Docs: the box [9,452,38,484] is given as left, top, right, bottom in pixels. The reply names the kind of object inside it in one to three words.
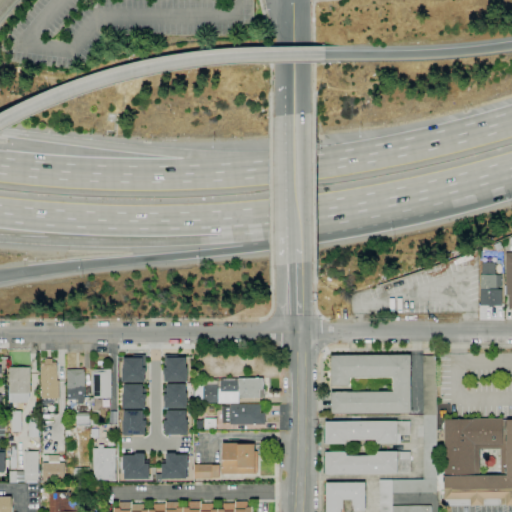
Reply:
house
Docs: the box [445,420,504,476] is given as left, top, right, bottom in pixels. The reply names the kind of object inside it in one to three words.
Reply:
house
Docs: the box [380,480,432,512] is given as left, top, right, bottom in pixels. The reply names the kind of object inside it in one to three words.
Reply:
building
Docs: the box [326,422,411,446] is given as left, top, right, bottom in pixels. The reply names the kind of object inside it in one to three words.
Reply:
building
